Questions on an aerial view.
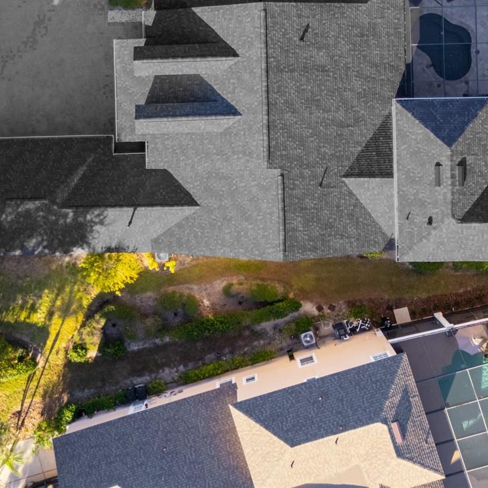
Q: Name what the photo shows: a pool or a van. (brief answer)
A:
pool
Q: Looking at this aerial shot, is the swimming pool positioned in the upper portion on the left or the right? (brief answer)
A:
right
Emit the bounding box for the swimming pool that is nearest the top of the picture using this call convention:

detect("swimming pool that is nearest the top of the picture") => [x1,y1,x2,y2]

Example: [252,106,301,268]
[412,9,477,85]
